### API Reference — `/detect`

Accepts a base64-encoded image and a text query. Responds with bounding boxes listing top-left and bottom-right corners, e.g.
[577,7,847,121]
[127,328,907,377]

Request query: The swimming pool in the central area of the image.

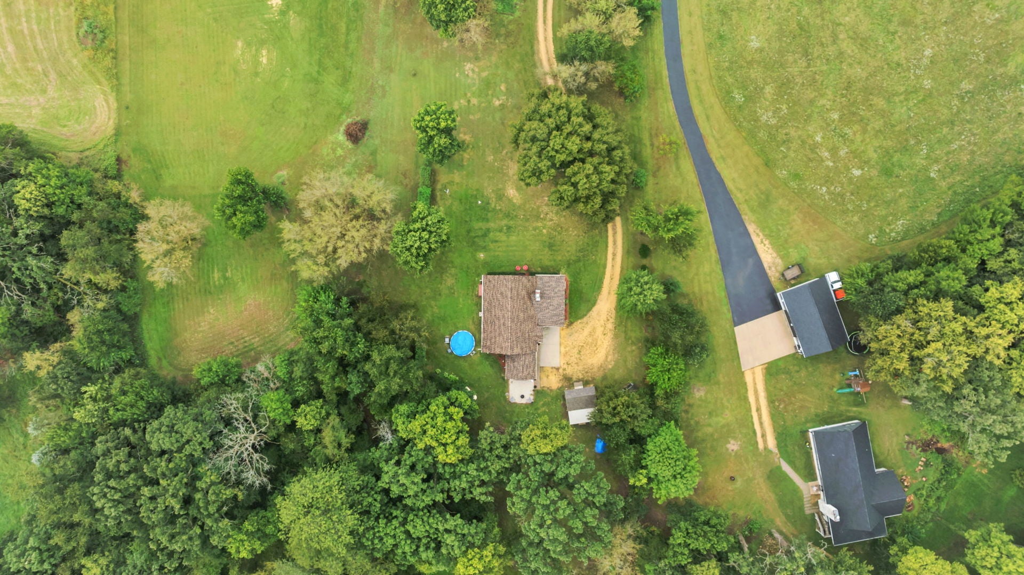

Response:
[448,330,475,356]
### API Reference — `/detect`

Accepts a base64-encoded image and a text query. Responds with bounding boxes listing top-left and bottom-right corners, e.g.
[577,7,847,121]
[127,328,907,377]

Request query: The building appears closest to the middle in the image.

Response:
[481,276,566,380]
